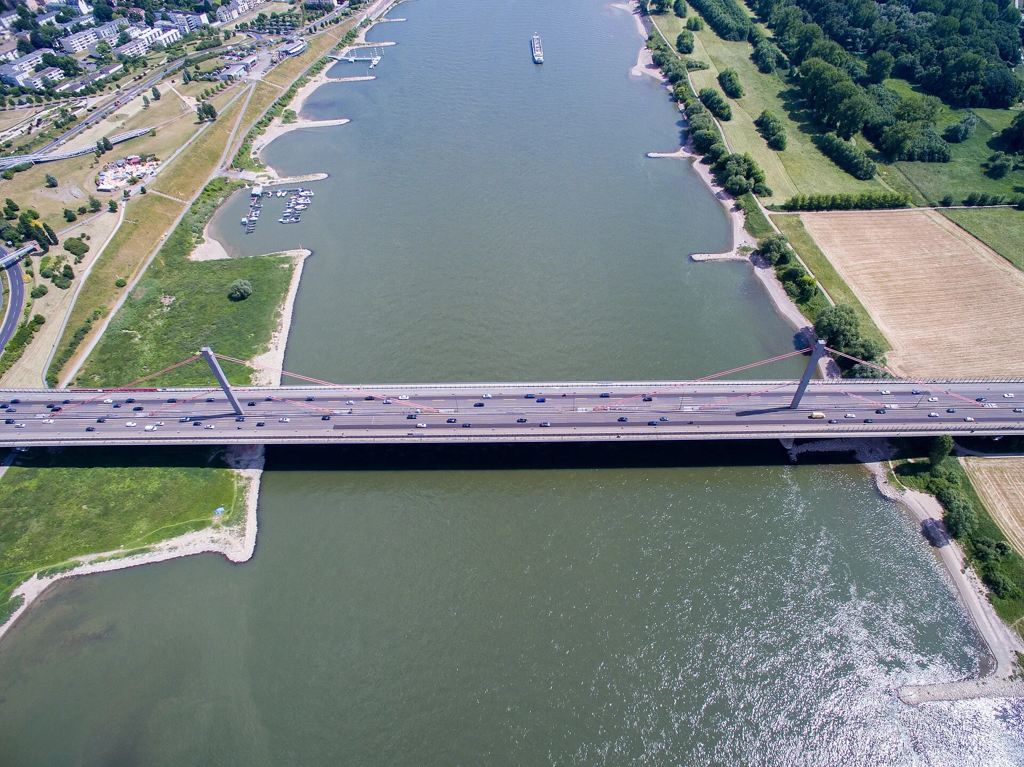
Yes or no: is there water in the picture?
Yes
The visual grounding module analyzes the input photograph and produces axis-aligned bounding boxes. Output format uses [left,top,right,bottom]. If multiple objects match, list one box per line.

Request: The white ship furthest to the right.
[530,31,544,64]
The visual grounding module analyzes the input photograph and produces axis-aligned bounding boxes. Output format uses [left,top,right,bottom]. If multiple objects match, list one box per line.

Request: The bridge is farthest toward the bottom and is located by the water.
[0,340,1024,460]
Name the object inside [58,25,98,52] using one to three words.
building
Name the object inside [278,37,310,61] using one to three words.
building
